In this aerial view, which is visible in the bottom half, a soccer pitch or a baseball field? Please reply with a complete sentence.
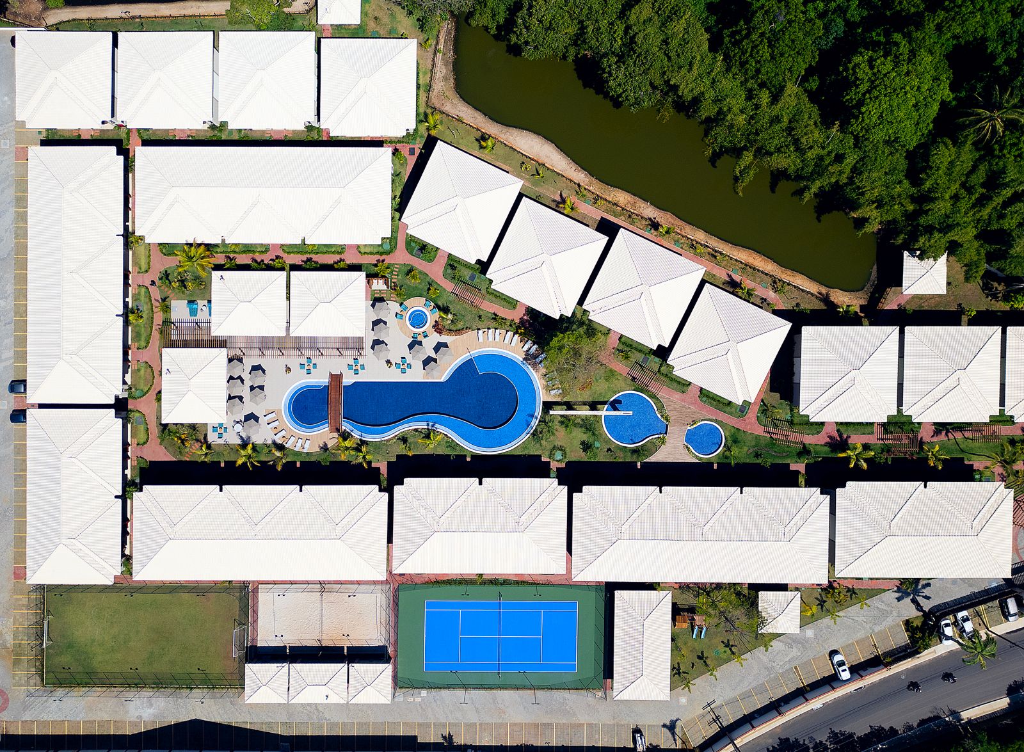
Looking in the bottom half, you will find a soccer pitch.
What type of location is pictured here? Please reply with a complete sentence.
What you see here is a residential area.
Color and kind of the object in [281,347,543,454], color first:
blue swimming pool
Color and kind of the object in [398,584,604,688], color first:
blue tennis court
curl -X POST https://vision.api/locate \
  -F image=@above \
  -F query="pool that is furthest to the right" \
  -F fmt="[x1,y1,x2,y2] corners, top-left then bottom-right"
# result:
[685,421,725,457]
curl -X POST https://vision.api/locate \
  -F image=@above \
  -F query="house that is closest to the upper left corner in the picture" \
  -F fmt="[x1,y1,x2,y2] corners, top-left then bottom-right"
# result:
[15,31,127,129]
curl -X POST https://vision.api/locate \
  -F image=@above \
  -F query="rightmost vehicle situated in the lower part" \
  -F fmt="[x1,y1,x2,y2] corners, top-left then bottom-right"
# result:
[1000,597,1019,624]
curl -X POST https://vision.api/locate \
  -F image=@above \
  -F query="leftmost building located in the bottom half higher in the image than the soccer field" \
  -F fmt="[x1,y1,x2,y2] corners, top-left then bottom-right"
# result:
[26,408,131,585]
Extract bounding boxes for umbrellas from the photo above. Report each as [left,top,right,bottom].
[374,322,391,340]
[373,343,391,360]
[228,379,246,395]
[250,369,267,385]
[245,419,261,437]
[251,387,267,405]
[228,359,246,377]
[426,360,441,378]
[411,345,428,361]
[227,398,245,415]
[437,346,453,364]
[374,302,392,318]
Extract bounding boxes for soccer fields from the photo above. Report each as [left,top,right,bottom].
[43,583,249,687]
